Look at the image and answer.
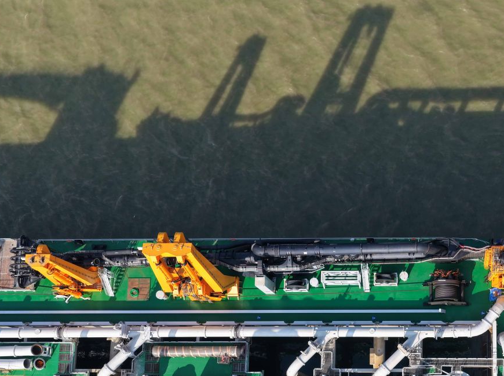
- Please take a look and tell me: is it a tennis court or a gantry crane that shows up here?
gantry crane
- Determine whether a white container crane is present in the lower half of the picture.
No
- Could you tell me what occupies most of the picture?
water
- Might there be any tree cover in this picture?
No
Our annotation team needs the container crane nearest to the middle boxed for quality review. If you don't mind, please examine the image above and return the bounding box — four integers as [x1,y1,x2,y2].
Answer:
[144,235,236,303]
